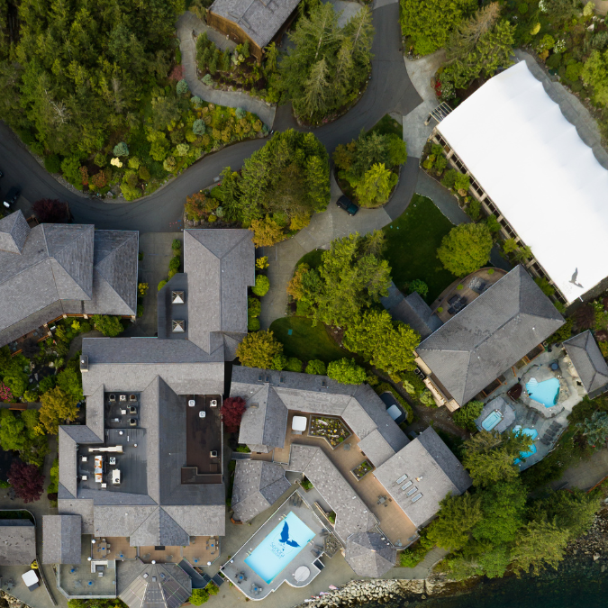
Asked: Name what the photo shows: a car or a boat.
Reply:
car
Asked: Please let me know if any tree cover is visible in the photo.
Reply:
Yes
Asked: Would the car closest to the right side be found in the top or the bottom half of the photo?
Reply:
top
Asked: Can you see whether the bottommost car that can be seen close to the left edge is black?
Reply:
Yes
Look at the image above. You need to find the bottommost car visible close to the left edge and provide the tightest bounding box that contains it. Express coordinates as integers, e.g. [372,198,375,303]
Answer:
[0,183,23,207]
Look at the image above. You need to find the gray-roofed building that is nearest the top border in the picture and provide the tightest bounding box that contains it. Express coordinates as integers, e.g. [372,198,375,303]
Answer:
[208,0,303,54]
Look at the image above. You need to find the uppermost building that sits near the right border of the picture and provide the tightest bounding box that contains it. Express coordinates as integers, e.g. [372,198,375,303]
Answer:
[428,61,608,311]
